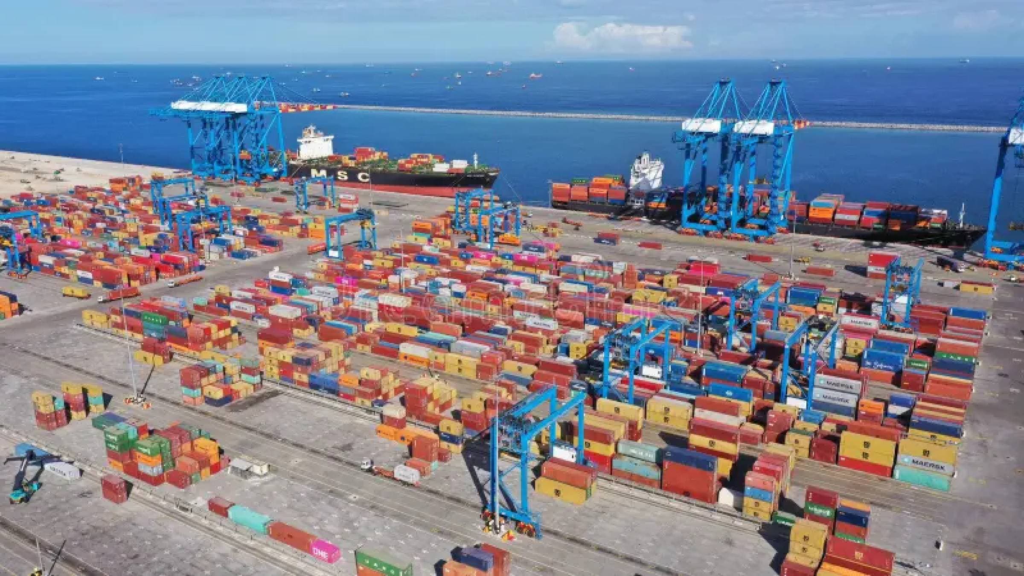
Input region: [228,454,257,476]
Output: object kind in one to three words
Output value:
shed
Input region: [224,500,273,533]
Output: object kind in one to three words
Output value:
shipping container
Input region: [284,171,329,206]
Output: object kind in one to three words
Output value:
container crane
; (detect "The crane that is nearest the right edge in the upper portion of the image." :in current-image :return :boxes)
[986,116,1024,267]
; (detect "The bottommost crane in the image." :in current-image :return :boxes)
[480,375,593,523]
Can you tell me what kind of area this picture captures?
port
